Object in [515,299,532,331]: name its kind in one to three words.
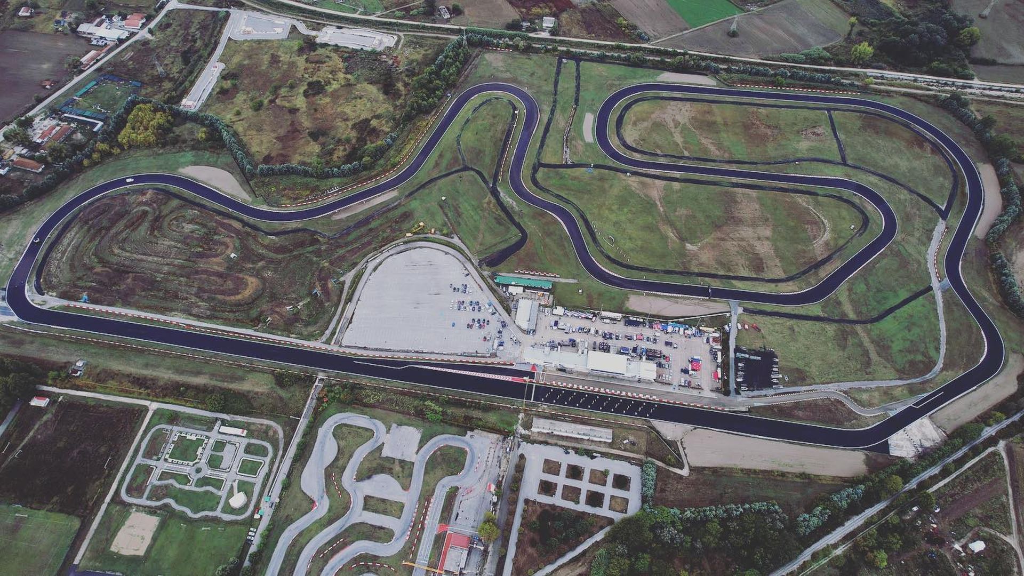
building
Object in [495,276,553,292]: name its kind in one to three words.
shed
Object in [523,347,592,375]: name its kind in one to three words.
building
